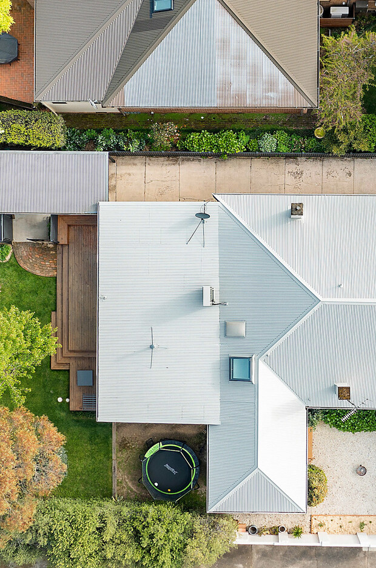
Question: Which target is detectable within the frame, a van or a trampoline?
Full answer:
There is a trampoline in the scene.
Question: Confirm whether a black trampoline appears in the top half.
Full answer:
No, there's no black trampoline to be seen in the top half.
